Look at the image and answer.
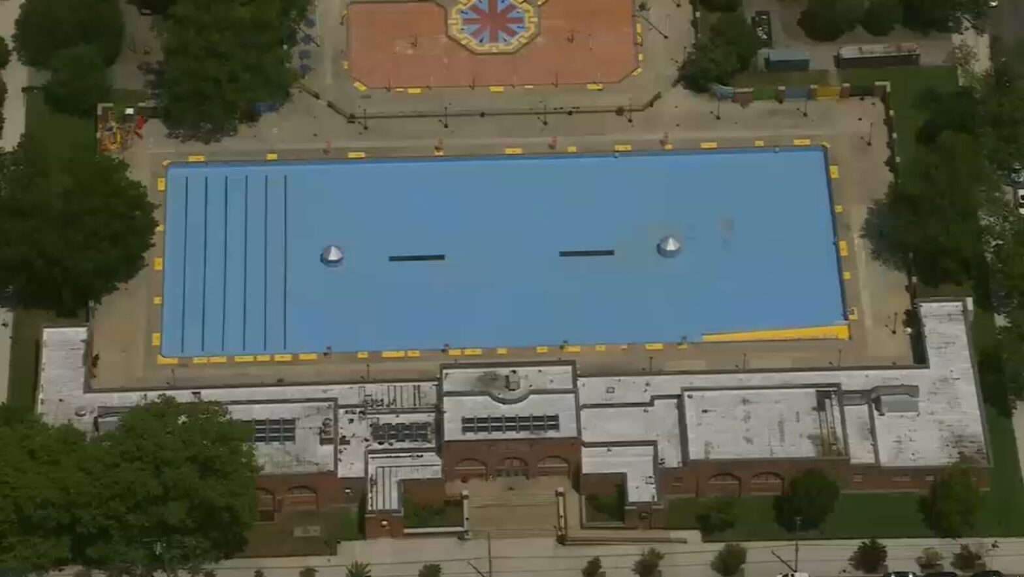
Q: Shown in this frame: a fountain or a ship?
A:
fountain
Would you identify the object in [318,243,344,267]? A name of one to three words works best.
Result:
fountain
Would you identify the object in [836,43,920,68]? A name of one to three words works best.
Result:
trailer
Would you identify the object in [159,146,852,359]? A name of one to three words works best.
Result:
swimming pool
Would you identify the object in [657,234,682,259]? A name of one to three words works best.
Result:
fountain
